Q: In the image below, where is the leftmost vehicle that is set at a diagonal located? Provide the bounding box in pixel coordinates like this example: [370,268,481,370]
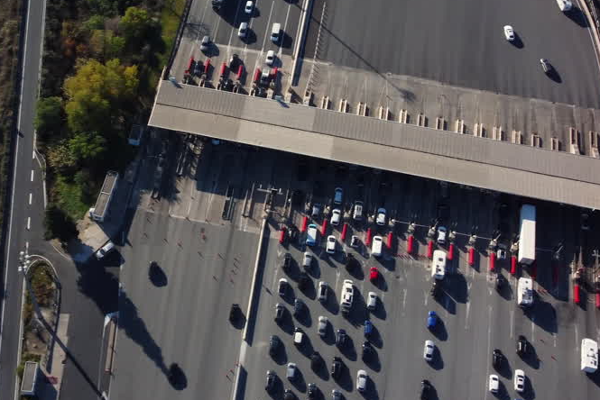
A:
[95,241,115,260]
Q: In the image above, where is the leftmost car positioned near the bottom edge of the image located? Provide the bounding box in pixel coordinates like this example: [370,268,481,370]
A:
[168,356,183,383]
